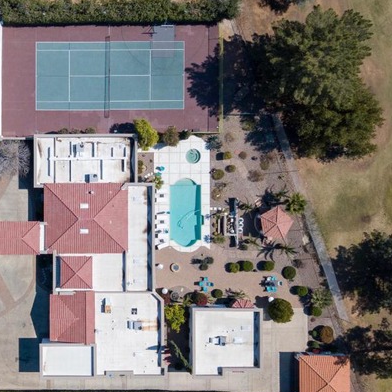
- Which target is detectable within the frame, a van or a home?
home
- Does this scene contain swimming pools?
Yes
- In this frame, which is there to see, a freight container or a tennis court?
tennis court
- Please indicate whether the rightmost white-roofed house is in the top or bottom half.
bottom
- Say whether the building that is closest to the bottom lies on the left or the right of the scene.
right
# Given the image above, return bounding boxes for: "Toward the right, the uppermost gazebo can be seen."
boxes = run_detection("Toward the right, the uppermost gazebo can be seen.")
[254,205,295,246]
